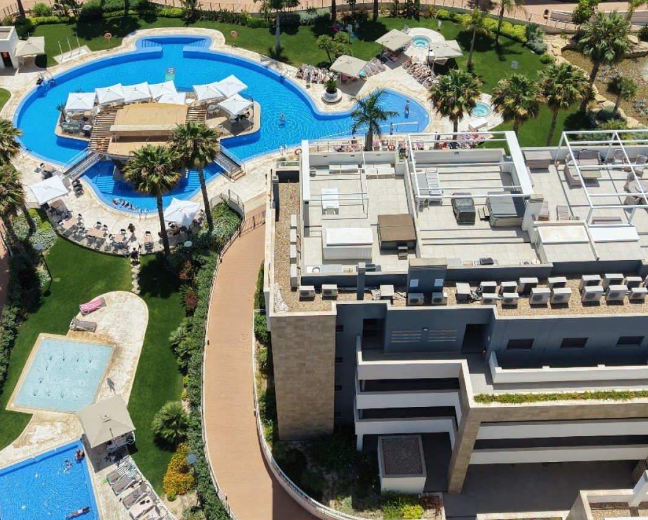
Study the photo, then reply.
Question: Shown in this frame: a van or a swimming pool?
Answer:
swimming pool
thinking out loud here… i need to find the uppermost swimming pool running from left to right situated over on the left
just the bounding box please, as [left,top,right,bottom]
[13,36,430,214]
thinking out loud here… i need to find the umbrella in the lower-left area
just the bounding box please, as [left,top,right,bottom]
[80,397,137,455]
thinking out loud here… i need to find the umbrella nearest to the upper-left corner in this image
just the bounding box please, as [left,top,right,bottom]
[15,44,49,73]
